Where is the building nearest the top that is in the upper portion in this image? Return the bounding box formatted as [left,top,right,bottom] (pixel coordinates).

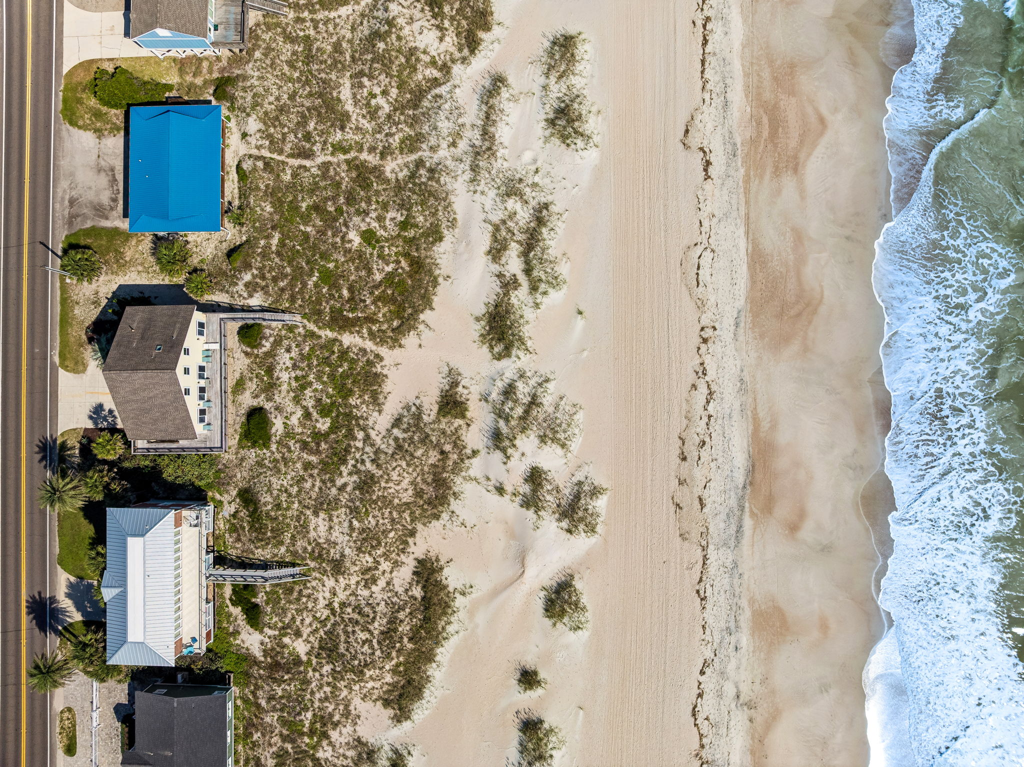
[131,0,220,61]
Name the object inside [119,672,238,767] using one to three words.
house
